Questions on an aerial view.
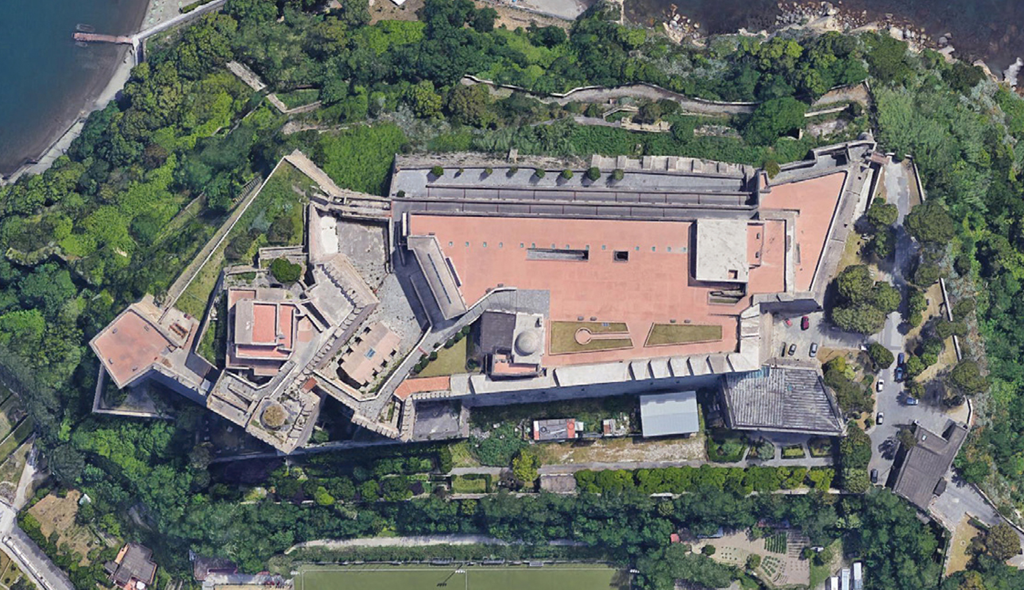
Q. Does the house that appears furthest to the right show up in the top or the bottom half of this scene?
bottom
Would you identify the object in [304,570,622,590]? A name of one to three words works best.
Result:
sports field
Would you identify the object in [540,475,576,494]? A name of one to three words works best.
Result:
building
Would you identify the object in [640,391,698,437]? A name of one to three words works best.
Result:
shed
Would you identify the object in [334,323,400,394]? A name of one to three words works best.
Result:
building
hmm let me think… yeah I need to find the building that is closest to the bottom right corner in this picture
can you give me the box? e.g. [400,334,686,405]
[892,420,968,512]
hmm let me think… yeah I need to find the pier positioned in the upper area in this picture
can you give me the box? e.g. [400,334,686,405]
[73,32,134,45]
